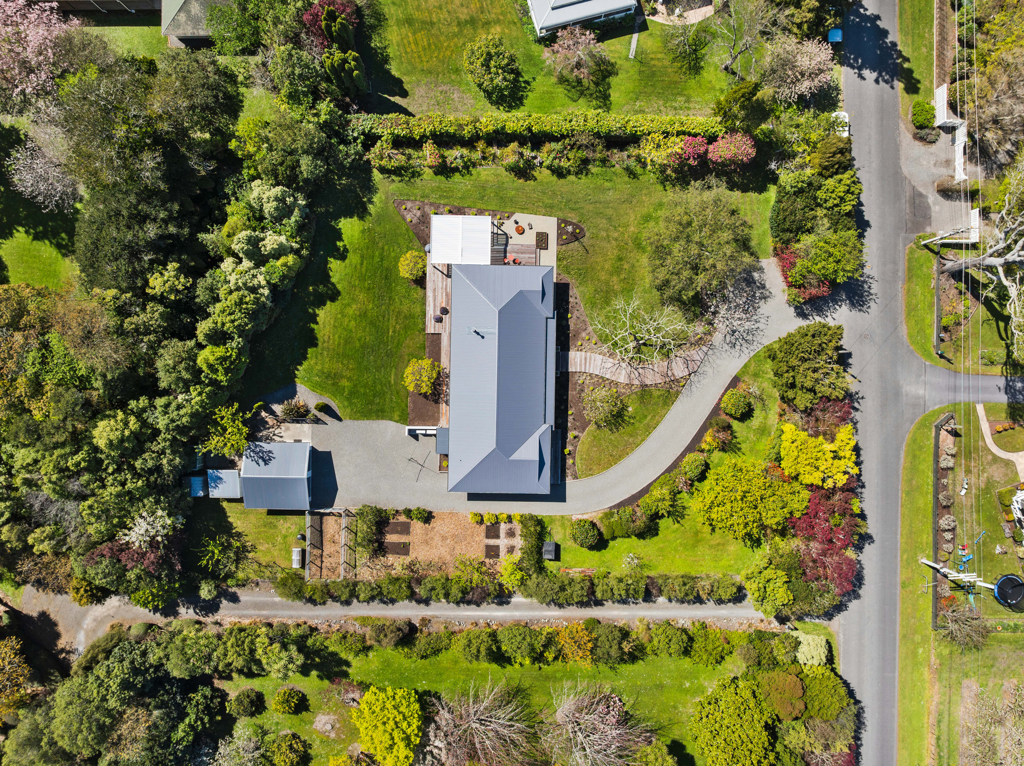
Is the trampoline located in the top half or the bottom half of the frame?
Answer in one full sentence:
The trampoline is in the bottom half of the image.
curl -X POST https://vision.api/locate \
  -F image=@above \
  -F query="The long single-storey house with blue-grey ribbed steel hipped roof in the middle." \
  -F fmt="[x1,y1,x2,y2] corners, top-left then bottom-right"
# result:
[447,264,556,495]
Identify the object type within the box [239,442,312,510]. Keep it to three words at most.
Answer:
building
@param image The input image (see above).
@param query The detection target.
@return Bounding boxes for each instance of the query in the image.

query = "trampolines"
[986,573,1024,611]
